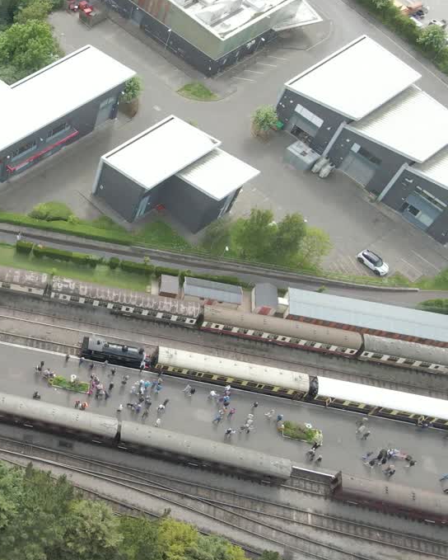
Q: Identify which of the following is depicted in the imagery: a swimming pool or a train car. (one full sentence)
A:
There is a train car in the scene.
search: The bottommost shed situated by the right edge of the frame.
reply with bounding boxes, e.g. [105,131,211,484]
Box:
[280,287,448,347]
